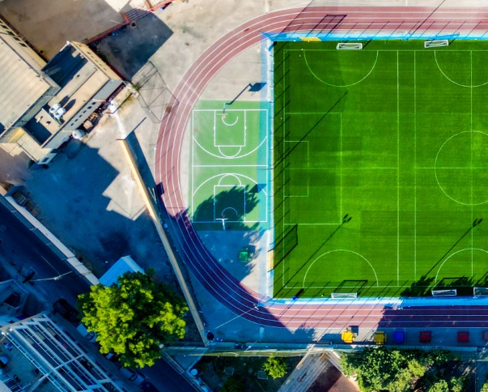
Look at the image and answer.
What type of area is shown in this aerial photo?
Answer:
sports ground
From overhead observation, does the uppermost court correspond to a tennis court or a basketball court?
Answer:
basketball court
